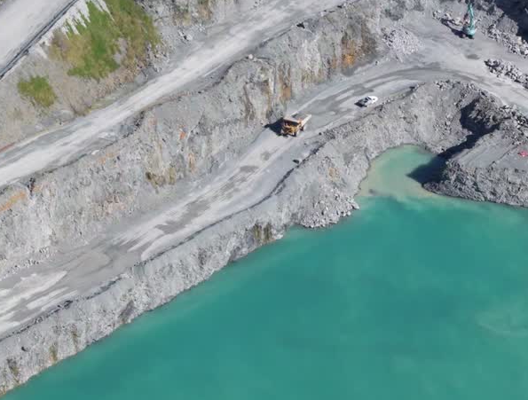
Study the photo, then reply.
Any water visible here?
Yes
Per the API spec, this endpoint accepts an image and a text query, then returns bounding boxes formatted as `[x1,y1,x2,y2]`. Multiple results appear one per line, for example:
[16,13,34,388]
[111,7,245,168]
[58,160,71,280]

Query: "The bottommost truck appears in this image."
[281,106,315,136]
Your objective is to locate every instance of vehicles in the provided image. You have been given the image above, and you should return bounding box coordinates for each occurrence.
[281,106,315,136]
[464,10,477,39]
[357,95,377,105]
